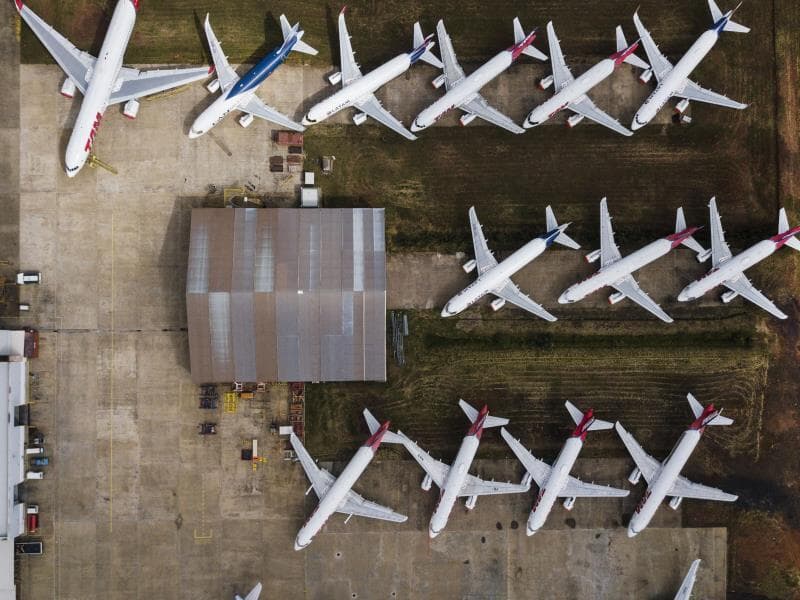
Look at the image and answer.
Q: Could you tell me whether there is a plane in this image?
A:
Yes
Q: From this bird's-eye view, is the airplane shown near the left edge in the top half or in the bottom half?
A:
top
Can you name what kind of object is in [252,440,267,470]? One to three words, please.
work vehicle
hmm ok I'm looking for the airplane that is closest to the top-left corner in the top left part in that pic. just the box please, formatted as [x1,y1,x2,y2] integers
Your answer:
[16,0,220,177]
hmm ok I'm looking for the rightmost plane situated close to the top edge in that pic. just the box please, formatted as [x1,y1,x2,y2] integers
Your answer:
[630,0,758,130]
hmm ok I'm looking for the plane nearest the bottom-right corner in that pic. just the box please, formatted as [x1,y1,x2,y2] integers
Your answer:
[670,559,703,600]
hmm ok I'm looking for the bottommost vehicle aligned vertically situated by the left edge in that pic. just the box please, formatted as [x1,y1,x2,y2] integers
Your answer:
[27,505,39,532]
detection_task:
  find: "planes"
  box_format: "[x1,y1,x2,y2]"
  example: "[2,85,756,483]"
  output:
[630,0,758,130]
[558,195,709,322]
[291,409,410,548]
[301,4,447,138]
[523,16,653,136]
[16,0,220,177]
[502,399,632,534]
[670,559,703,600]
[410,14,551,133]
[441,203,583,321]
[616,392,742,535]
[235,581,262,600]
[189,11,320,139]
[677,193,800,319]
[398,398,532,535]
